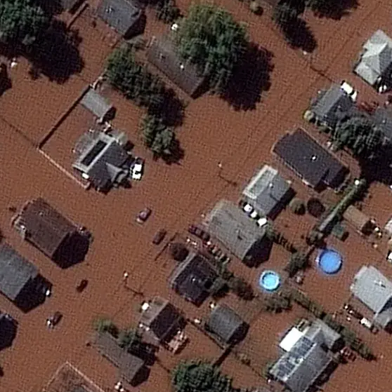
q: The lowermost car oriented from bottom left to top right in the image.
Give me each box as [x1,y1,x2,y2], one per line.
[46,309,65,328]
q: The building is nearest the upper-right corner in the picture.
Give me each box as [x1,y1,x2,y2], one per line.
[354,30,392,87]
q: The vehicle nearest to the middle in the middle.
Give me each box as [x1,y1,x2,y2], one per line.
[189,226,209,242]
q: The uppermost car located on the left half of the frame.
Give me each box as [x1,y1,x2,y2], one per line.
[130,160,143,181]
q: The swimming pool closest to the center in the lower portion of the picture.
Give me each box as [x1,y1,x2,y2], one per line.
[259,270,282,291]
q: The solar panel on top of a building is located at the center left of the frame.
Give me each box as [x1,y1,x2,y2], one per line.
[80,142,107,168]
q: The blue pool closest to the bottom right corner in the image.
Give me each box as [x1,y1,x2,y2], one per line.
[317,250,344,273]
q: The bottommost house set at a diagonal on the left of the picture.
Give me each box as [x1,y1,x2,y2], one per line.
[89,332,147,381]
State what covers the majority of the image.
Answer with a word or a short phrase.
water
